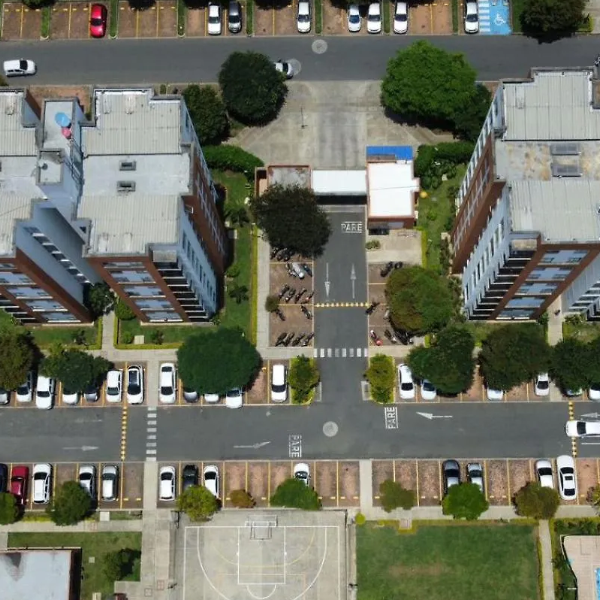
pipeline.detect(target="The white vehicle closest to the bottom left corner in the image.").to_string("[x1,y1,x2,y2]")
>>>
[32,463,54,505]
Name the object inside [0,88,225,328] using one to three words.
building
